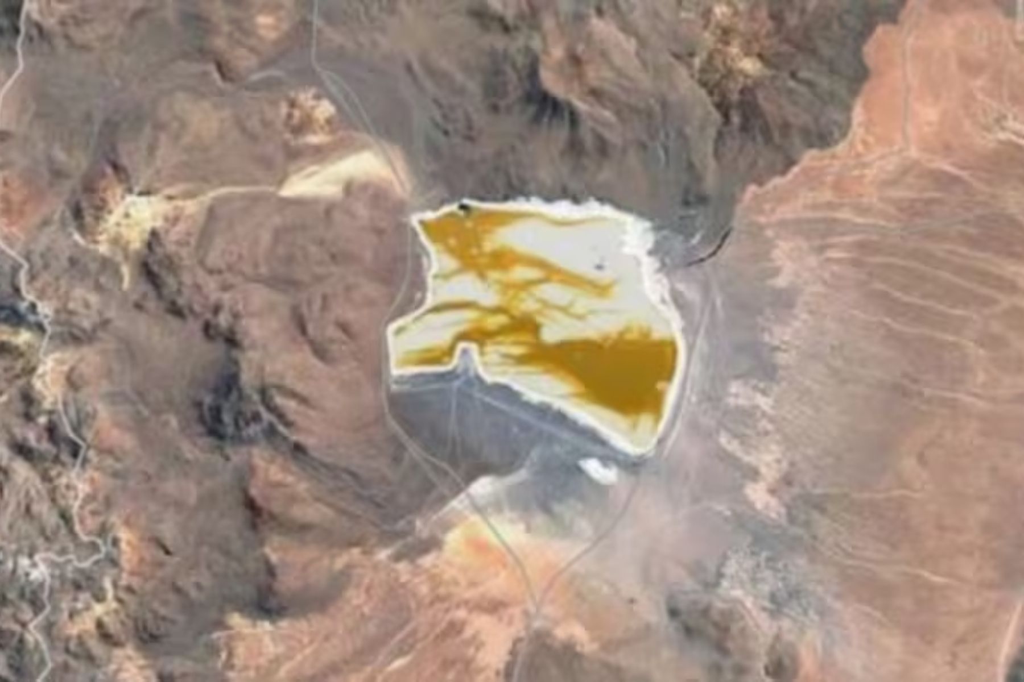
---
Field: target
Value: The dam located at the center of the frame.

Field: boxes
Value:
[389,346,654,481]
